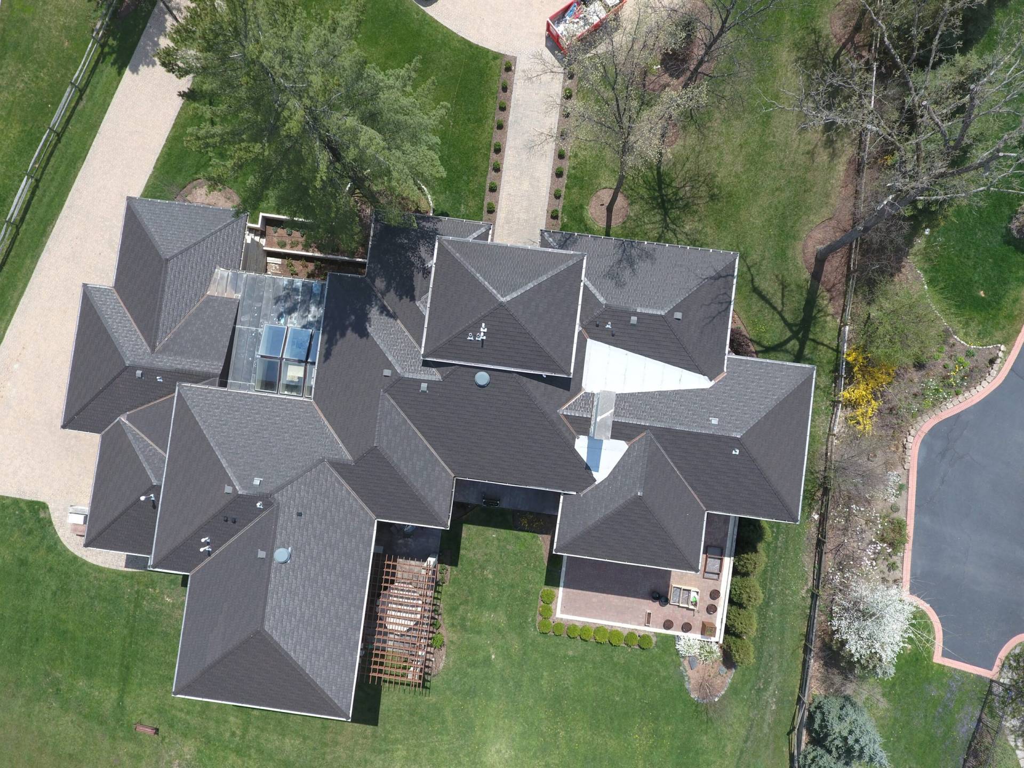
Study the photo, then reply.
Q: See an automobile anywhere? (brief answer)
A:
No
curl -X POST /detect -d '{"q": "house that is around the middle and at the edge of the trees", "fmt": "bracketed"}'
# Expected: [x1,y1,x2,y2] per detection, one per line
[59,194,819,723]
